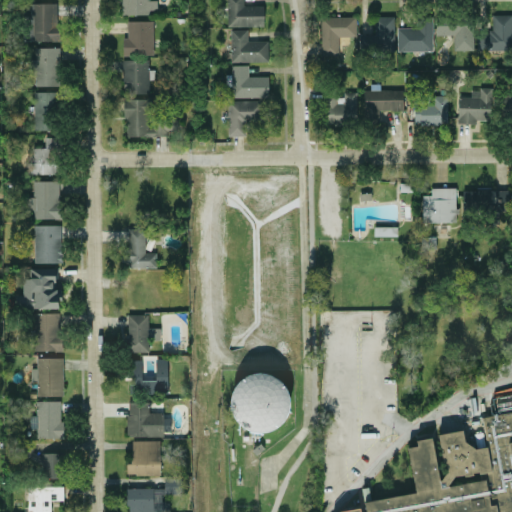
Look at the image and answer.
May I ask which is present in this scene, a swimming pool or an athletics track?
swimming pool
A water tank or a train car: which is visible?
water tank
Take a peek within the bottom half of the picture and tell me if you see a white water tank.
Yes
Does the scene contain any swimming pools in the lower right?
No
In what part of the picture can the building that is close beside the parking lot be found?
bottom right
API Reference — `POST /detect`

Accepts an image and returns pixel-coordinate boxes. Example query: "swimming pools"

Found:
[143,356,158,382]
[162,314,188,352]
[172,405,189,436]
[12,373,23,384]
[158,234,184,252]
[352,200,412,240]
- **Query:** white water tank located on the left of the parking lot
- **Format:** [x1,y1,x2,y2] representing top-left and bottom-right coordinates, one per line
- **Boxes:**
[232,374,290,434]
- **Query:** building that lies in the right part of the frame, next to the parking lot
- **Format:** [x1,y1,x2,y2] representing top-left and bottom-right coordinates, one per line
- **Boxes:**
[340,411,512,512]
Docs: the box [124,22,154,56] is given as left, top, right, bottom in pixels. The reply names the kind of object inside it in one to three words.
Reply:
house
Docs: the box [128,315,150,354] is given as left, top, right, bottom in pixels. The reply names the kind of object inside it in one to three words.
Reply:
house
